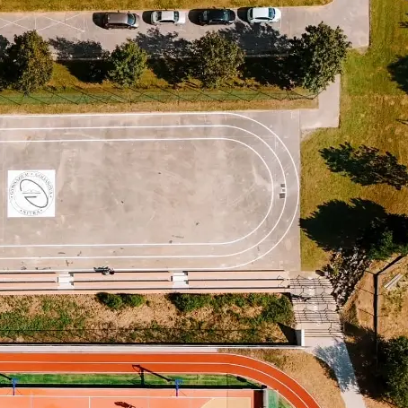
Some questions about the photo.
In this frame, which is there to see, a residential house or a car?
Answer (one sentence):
Visible in the photo is a car.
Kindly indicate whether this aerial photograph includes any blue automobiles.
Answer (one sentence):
No, the frame has no blue automobile in it.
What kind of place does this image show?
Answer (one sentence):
The area seen from above is a sports ground.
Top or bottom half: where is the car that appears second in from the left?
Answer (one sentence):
It is in the top half that the car that appears second in from the left appears.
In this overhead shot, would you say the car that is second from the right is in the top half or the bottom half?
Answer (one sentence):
You can find the car that is second from the right in the top half.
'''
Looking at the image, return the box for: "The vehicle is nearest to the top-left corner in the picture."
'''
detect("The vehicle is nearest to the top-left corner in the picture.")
[103,8,138,29]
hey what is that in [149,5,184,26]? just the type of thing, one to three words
car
